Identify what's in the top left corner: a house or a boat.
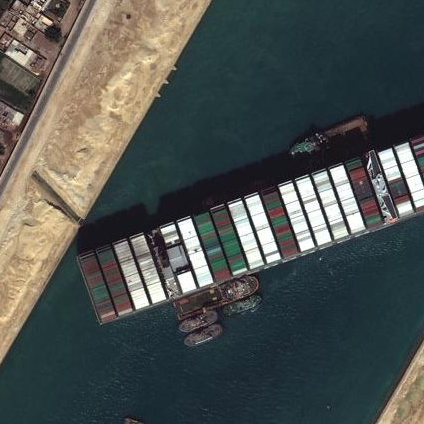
house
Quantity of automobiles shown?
0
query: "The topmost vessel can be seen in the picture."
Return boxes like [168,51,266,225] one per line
[289,117,370,161]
